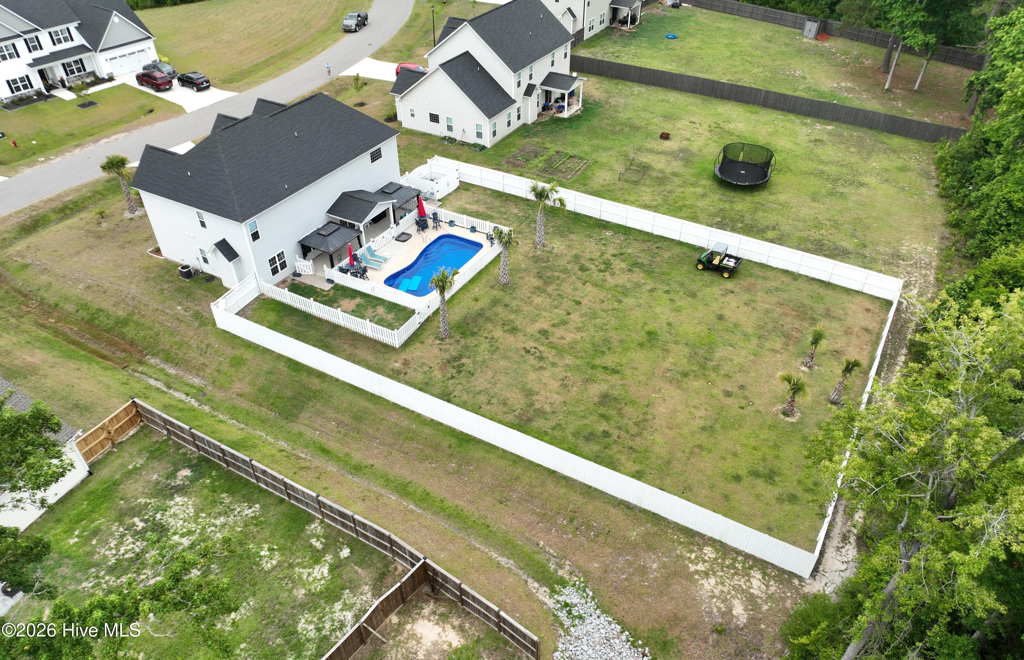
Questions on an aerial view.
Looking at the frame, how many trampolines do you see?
1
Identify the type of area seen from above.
residential area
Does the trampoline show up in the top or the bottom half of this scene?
top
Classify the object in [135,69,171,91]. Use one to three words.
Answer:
car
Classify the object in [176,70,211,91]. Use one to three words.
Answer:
car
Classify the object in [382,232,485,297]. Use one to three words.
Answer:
swimming pool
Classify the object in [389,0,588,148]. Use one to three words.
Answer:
house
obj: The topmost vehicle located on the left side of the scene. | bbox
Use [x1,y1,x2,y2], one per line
[341,12,369,31]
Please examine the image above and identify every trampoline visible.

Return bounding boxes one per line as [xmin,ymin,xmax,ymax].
[716,145,770,193]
